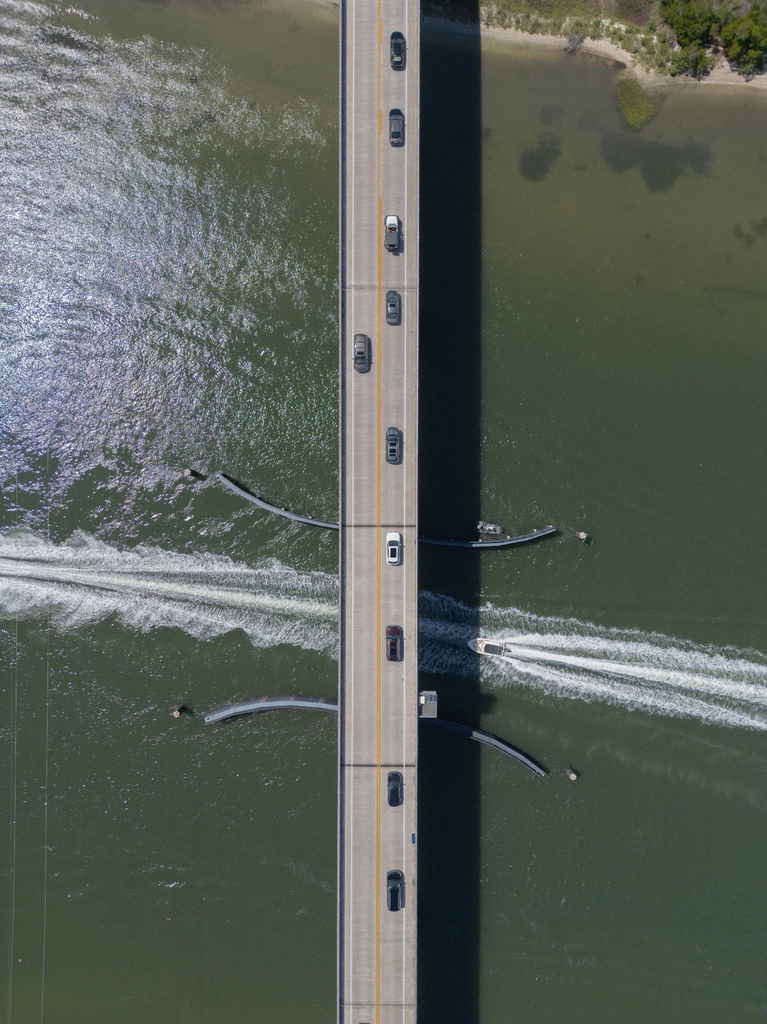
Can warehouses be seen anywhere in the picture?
No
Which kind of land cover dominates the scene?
water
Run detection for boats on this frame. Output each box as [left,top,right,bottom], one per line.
[467,639,508,656]
[476,521,504,534]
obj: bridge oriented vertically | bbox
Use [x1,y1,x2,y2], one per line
[337,0,420,1024]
